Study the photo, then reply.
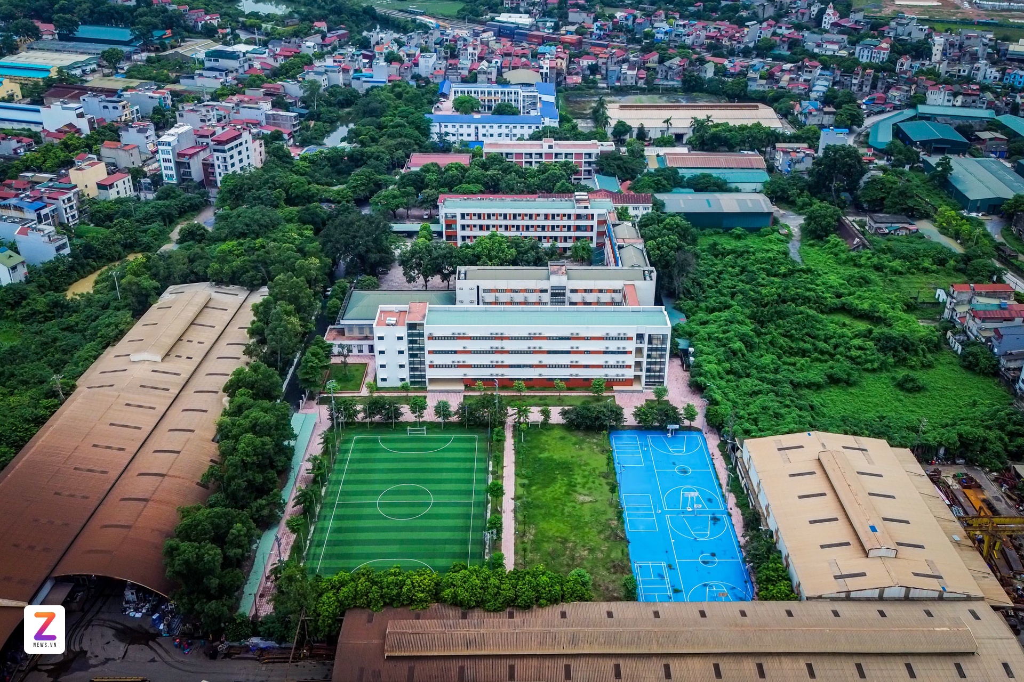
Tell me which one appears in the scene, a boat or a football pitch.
football pitch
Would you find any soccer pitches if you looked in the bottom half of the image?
Yes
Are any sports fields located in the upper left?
No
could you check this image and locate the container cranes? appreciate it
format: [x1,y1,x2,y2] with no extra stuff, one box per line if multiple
[964,514,1024,547]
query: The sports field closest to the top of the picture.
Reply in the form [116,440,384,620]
[567,91,728,118]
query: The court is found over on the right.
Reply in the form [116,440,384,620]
[611,431,761,608]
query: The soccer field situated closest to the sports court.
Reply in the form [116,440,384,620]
[297,428,489,597]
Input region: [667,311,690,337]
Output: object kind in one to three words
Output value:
shed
